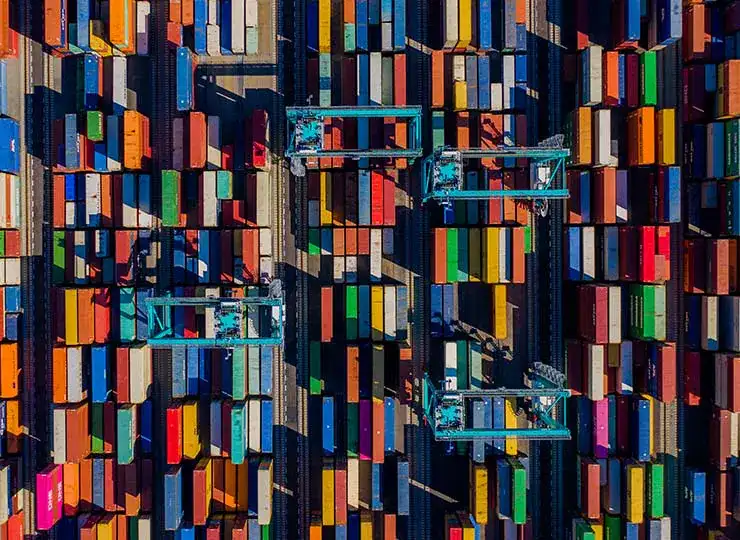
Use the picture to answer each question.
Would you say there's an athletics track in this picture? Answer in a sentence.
No, the picture doesn't show any athletics track.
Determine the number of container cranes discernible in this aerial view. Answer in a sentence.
In total, there are 4 container cranes in the scene.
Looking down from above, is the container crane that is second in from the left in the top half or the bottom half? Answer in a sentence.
The container crane that is second in from the left is in the top half of the image.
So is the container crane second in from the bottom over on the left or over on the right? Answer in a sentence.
You can find the container crane second in from the bottom on the left side of the picture.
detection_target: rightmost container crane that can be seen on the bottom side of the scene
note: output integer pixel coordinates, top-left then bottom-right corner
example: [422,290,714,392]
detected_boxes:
[423,359,572,442]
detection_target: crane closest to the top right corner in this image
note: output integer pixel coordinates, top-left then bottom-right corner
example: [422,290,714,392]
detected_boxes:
[423,134,570,218]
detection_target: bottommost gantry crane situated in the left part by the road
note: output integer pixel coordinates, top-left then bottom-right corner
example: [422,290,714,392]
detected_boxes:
[145,278,285,353]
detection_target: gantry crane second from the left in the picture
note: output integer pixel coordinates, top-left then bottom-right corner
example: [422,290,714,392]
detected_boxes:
[286,103,423,184]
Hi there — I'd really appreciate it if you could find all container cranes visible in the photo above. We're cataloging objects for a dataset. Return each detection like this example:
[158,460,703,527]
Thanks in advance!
[286,103,423,184]
[423,134,570,218]
[145,278,285,353]
[423,359,572,442]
